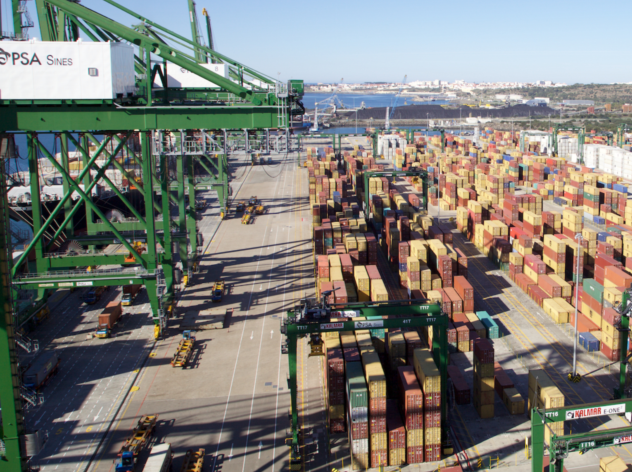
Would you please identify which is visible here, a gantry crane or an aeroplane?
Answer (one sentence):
This aerial view contains a gantry crane.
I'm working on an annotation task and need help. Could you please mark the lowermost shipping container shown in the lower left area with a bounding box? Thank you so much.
[137,433,169,472]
